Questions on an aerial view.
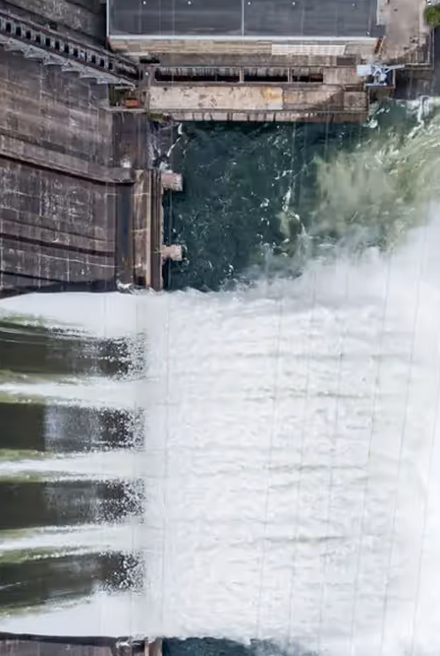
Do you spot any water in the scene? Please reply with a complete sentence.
Yes, there's water in this view.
